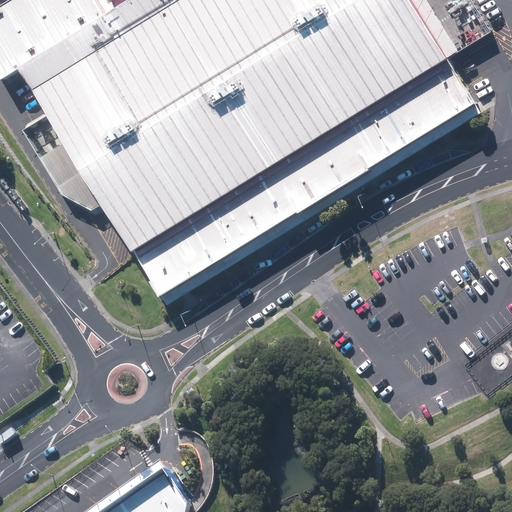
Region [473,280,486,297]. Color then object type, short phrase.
white vehicle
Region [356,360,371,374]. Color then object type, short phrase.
white vehicle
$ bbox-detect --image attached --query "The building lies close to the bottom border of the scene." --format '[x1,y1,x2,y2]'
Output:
[88,457,204,512]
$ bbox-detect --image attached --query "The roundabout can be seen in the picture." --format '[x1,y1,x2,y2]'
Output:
[108,364,146,404]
